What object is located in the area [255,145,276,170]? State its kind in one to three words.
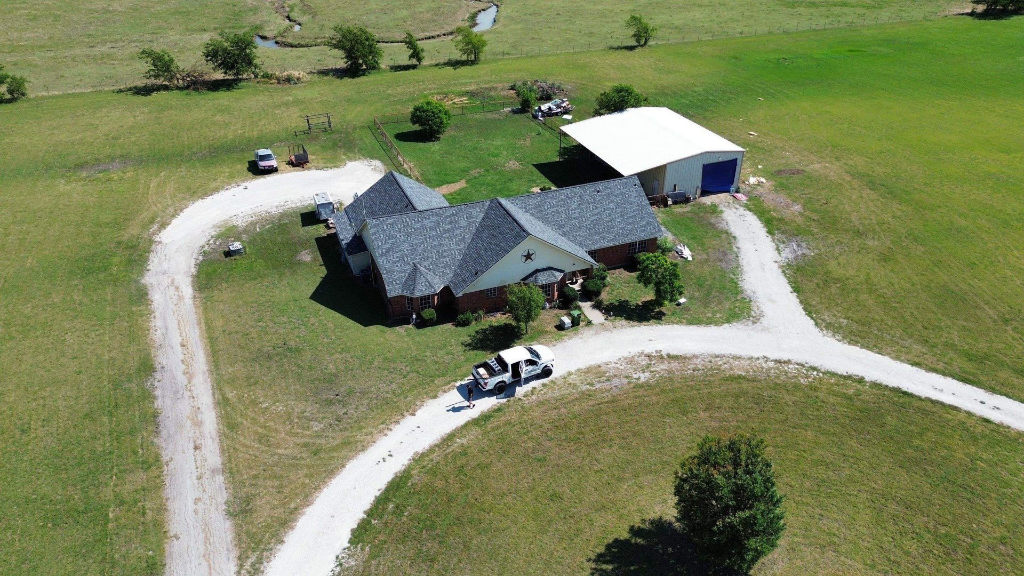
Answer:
car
